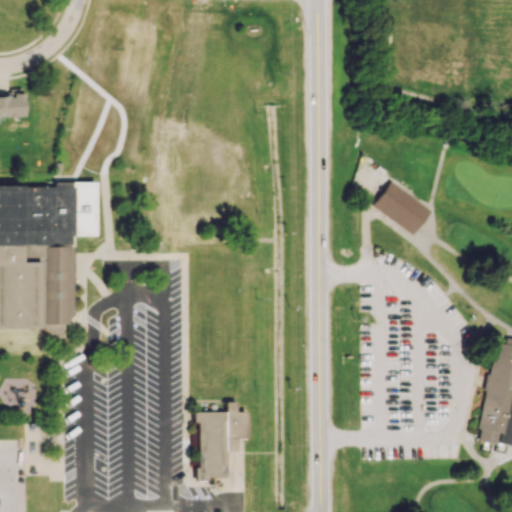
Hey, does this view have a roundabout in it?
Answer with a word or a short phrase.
No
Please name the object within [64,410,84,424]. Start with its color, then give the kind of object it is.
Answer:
white vehicle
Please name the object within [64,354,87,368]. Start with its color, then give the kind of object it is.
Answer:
white vehicle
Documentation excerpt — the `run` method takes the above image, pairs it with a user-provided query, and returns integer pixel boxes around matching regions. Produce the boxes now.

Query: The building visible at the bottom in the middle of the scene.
[197,403,250,480]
